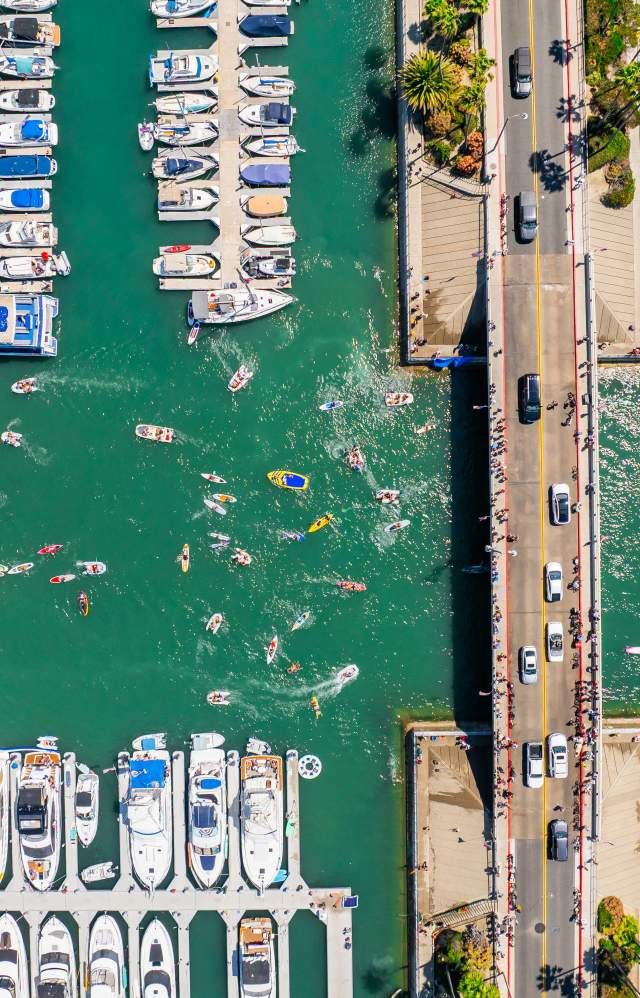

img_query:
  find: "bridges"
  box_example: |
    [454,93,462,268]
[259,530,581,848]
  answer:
[486,247,603,843]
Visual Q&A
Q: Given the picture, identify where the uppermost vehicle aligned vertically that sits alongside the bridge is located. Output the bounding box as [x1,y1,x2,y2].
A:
[515,192,538,245]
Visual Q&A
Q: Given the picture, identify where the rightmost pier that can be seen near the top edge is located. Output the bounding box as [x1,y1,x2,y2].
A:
[157,0,292,293]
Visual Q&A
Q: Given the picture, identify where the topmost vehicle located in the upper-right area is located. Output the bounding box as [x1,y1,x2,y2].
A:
[509,48,532,97]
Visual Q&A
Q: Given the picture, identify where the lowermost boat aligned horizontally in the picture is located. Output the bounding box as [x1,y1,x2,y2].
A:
[80,861,117,880]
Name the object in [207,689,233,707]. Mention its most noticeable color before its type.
white boat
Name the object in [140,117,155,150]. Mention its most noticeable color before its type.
white boat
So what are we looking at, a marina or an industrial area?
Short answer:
marina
